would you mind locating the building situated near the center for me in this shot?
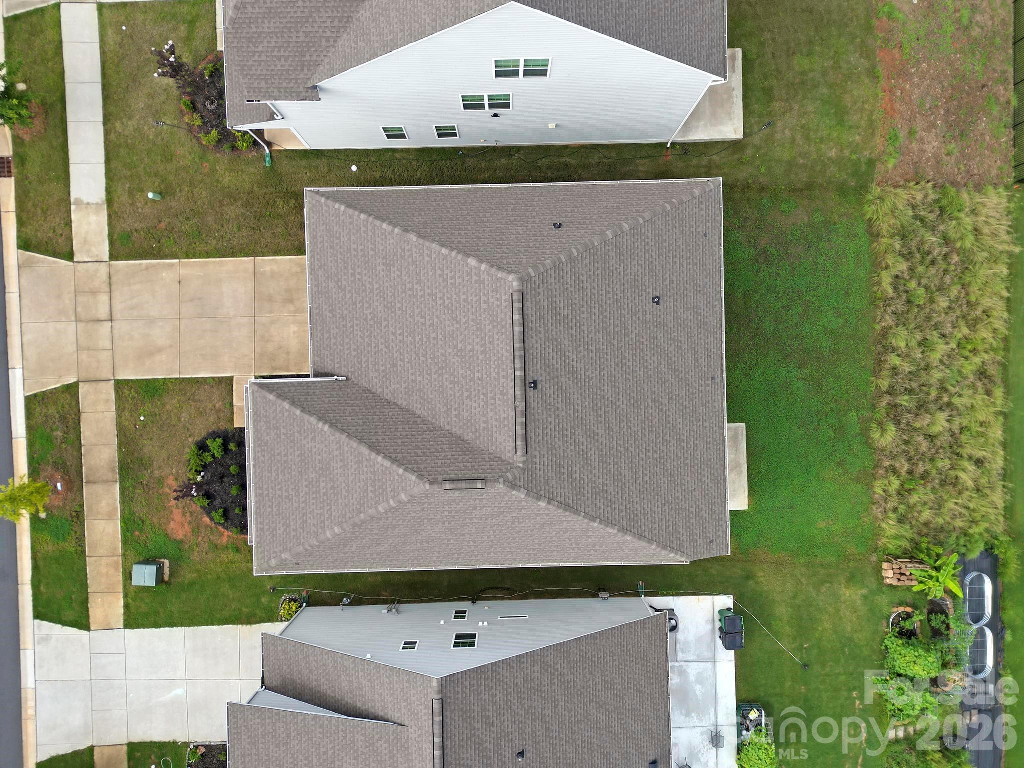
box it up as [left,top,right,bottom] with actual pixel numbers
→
[242,175,734,578]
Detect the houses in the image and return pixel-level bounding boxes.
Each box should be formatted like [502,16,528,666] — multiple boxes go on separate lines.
[216,0,730,157]
[225,591,672,768]
[242,175,734,578]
